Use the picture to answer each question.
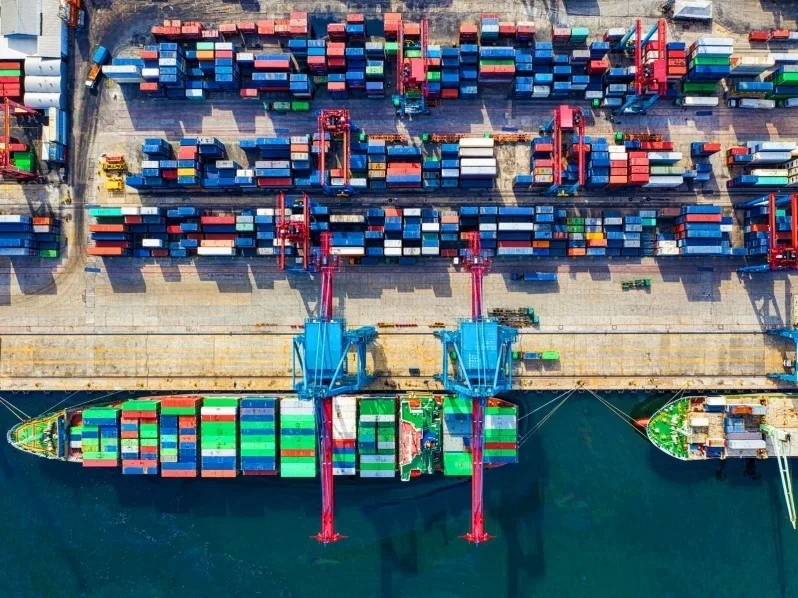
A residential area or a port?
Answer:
port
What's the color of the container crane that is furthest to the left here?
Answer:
red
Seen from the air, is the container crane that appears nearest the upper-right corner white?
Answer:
No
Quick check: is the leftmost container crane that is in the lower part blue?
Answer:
Yes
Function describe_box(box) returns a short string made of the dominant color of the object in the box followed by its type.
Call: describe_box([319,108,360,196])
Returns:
red container crane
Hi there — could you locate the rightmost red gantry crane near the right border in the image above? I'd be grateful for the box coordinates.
[735,193,798,275]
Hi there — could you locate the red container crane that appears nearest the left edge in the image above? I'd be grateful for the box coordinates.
[0,98,48,180]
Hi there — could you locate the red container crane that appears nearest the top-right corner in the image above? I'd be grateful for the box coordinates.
[610,18,668,113]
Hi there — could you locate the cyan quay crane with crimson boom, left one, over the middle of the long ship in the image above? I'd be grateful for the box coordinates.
[286,235,383,542]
